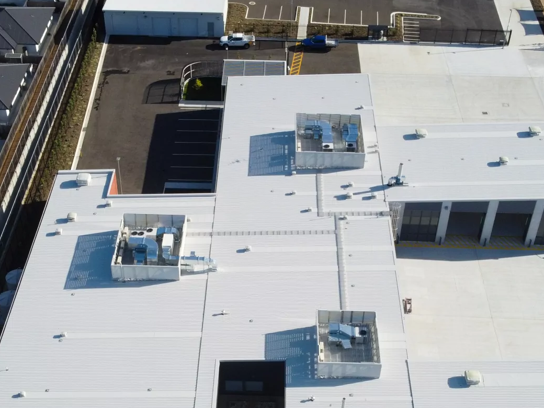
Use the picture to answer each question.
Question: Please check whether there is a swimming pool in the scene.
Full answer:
No, the scene contains no swimming pool.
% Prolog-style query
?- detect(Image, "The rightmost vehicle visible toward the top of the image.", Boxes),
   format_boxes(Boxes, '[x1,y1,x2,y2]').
[302,36,338,51]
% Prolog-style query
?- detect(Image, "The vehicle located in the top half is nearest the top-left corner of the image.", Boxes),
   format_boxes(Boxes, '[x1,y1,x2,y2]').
[222,35,256,51]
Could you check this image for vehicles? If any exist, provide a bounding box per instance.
[222,35,256,51]
[302,36,338,51]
